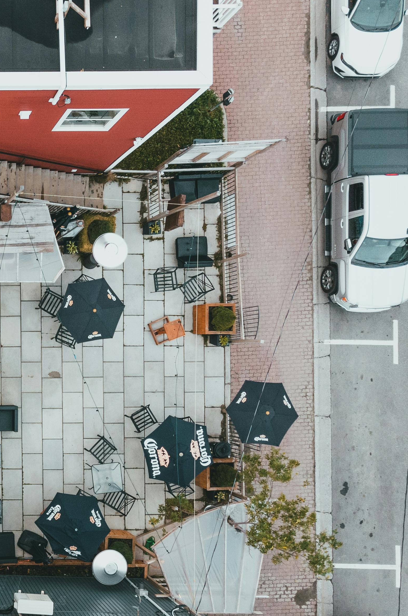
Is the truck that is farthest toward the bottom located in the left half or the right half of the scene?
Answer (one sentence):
You can find the truck that is farthest toward the bottom on the right side of the picture.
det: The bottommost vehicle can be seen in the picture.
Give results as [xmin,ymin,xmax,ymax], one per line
[318,107,408,314]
